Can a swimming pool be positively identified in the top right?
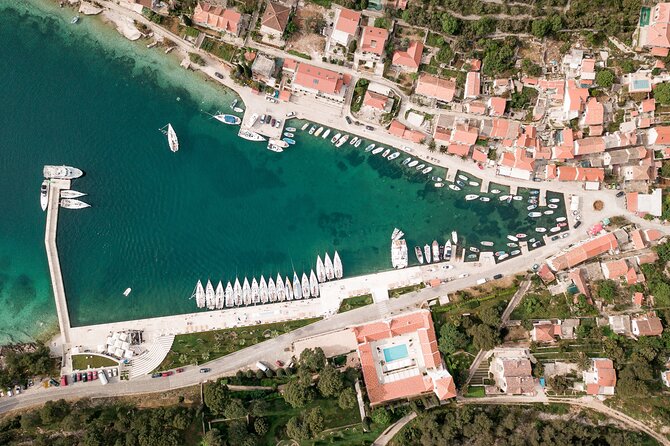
Yes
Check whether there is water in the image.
Yes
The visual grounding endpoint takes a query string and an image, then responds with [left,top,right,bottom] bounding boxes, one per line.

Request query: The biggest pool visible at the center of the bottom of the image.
[380,341,412,366]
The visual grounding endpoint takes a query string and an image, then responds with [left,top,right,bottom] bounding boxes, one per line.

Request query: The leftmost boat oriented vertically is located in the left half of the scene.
[37,179,50,211]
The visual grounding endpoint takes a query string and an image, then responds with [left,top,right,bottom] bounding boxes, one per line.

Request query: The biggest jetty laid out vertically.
[44,179,72,343]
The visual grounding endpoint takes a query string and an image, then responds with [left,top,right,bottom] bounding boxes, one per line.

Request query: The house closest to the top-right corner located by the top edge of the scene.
[637,1,670,58]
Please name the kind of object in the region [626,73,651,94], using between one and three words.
swimming pool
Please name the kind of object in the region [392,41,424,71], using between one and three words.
house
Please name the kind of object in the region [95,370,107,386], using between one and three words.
vehicle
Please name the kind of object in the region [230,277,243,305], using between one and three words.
boat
